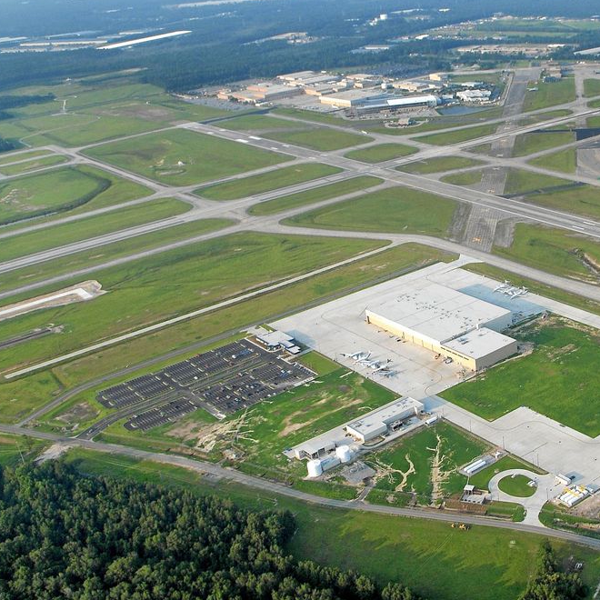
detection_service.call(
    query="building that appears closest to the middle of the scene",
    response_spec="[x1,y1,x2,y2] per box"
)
[256,328,302,357]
